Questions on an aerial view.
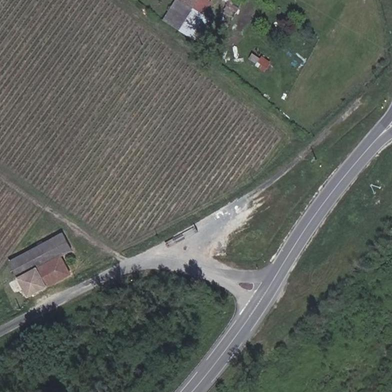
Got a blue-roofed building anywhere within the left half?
No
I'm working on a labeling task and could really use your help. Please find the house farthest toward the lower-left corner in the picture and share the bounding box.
[10,268,47,298]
